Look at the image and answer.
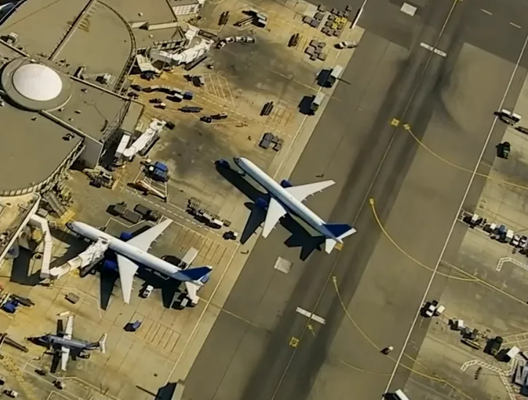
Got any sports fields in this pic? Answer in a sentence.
No, I can't see a single sports field in this photo.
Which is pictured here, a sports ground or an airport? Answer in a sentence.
The picture captures an airport.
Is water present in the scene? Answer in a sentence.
No, there is no water in the image.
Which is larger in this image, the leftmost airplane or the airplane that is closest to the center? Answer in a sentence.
The airplane that is closest to the center takes up more space than the leftmost airplane does.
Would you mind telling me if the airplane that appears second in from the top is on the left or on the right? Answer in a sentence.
You can find the airplane that appears second in from the top on the left side of the picture.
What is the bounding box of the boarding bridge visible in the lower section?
[31,215,113,283]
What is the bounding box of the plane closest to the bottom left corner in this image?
[30,320,97,373]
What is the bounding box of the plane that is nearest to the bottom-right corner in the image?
[234,158,355,251]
